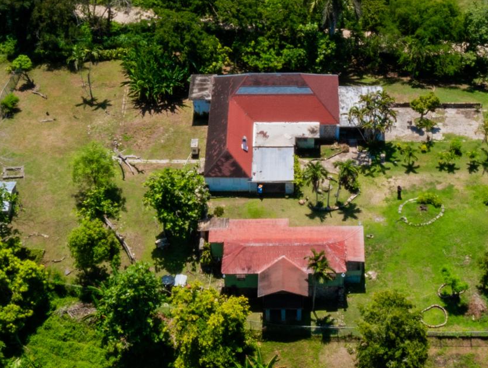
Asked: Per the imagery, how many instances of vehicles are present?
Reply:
0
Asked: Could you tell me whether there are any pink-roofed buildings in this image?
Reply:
Yes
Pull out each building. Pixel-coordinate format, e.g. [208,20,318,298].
[0,181,18,222]
[189,72,383,201]
[200,216,366,322]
